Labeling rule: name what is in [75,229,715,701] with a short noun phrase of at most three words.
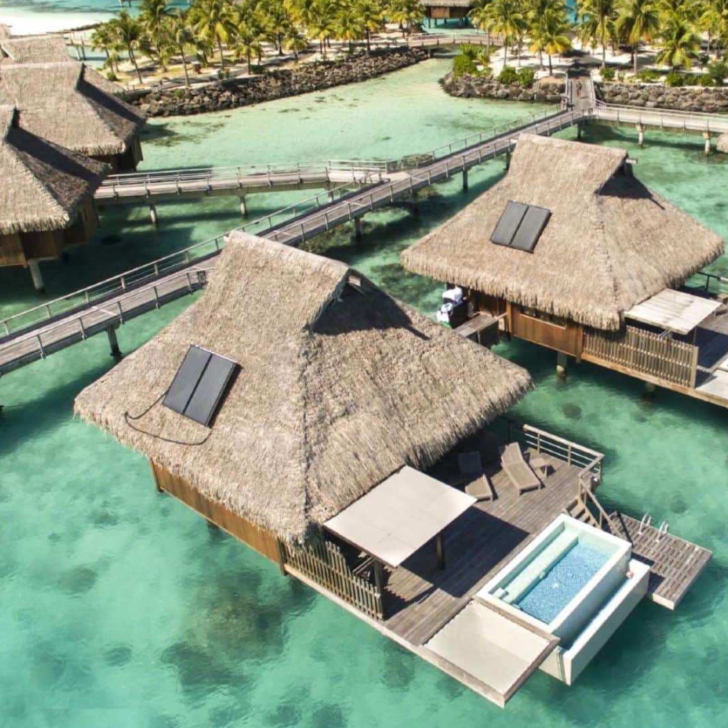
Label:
house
